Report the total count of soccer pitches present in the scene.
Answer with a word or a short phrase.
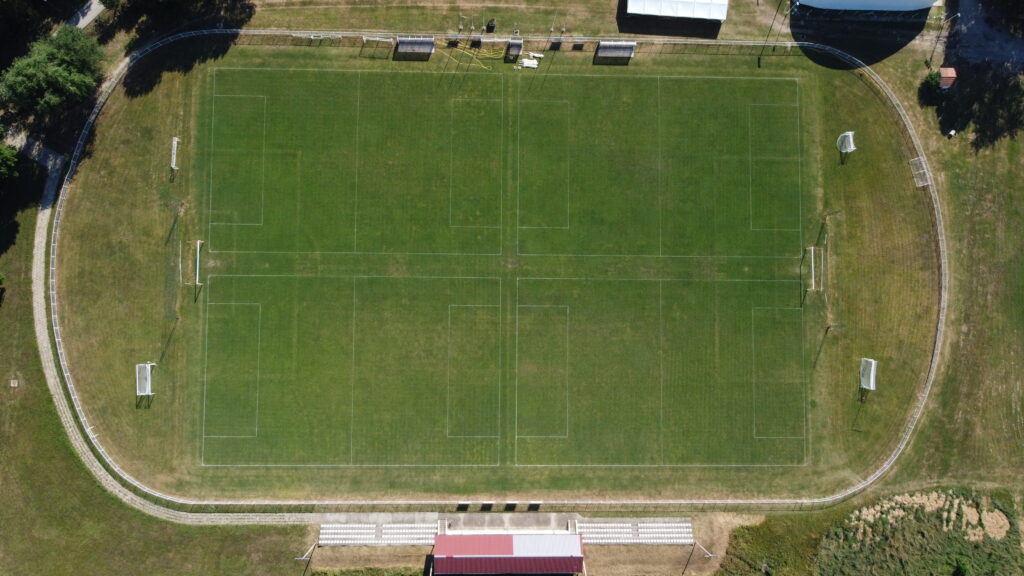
four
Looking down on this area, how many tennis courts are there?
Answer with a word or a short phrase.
0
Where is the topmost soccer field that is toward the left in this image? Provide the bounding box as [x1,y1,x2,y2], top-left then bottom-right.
[209,68,502,255]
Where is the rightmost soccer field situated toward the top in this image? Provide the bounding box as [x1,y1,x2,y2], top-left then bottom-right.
[518,74,802,257]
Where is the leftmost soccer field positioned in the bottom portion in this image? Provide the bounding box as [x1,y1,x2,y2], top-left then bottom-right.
[202,275,501,466]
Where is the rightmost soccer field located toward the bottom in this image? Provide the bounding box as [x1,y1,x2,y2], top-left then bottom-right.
[516,278,805,466]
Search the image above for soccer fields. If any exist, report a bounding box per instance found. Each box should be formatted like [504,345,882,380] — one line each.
[516,278,805,466]
[202,275,501,466]
[518,74,802,257]
[209,68,502,255]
